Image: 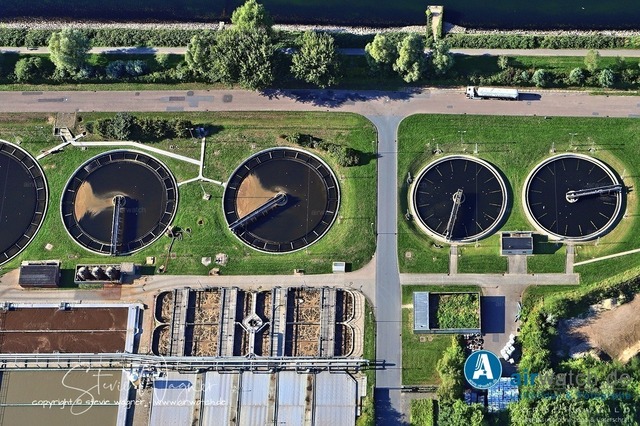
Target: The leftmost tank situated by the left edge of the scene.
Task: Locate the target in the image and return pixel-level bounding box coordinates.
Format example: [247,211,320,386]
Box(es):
[0,150,48,254]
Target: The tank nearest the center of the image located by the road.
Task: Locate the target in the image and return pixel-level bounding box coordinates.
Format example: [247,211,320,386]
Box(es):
[222,147,339,254]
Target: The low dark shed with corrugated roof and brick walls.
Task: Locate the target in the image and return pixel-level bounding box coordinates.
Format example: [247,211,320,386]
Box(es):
[18,261,61,287]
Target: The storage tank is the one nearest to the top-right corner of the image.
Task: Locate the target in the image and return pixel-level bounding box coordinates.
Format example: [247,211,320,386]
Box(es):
[524,152,624,242]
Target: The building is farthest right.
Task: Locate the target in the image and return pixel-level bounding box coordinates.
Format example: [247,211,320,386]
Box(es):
[499,229,535,255]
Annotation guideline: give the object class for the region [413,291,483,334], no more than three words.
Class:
building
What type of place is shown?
industrial area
